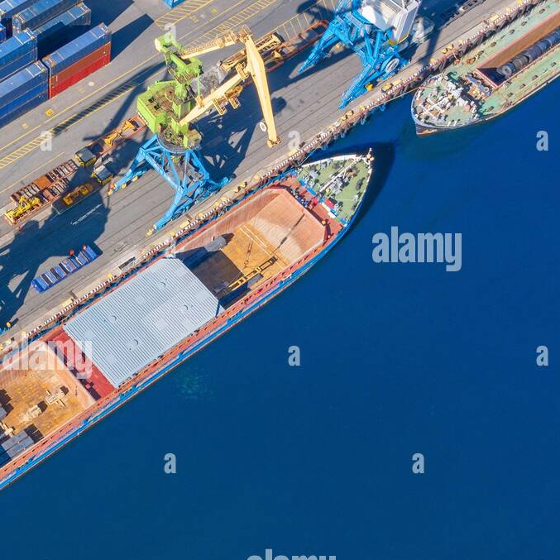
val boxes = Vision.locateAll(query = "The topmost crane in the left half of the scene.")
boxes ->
[102,21,278,238]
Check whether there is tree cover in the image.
No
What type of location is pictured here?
port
